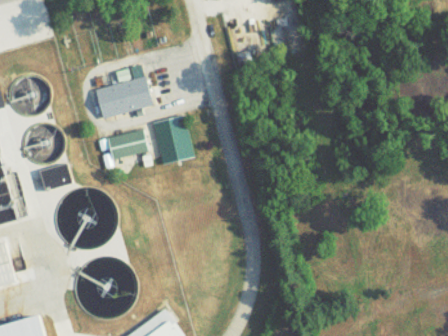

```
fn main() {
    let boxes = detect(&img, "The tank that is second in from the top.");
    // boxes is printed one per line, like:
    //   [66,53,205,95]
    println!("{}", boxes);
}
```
[19,122,65,164]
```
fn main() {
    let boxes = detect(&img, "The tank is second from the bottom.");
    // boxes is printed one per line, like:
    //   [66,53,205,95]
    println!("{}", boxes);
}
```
[55,186,118,252]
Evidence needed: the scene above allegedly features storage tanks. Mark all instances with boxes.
[4,72,51,116]
[19,122,65,164]
[72,256,137,318]
[55,186,118,252]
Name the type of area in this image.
industrial area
